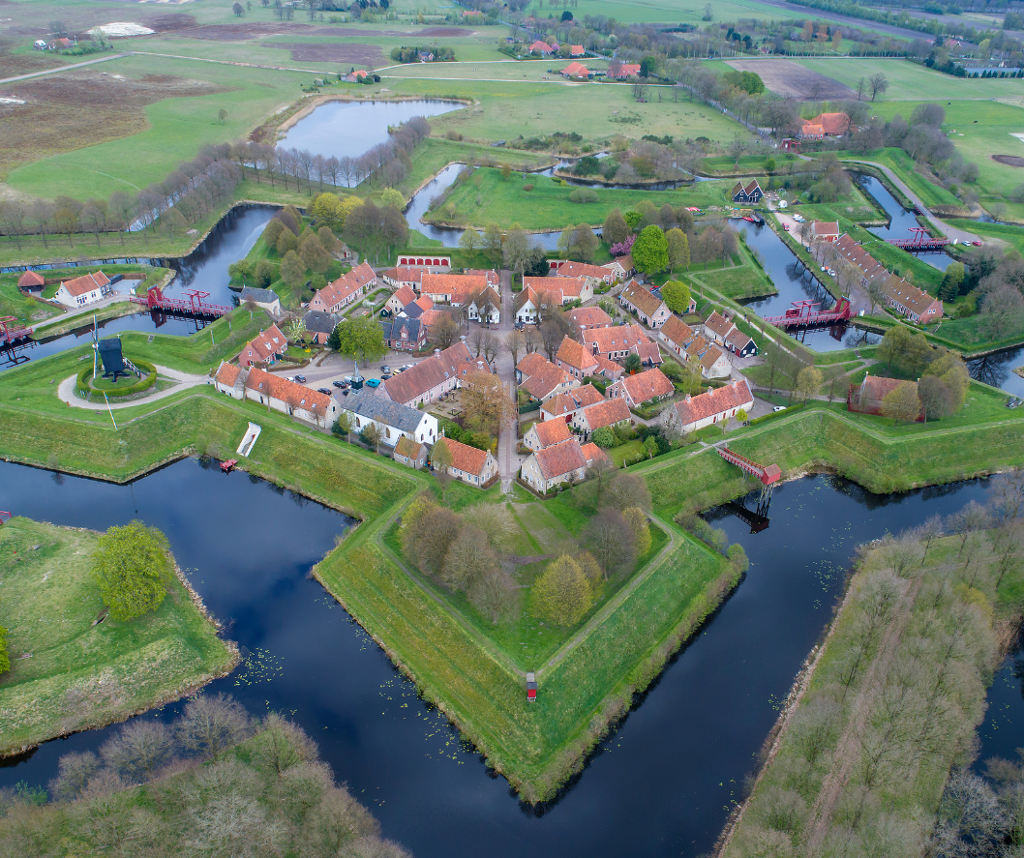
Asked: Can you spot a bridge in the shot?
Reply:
Yes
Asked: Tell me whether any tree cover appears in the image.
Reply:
Yes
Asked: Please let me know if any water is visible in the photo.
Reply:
Yes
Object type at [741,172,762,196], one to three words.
house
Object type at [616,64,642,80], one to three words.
house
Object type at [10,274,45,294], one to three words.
building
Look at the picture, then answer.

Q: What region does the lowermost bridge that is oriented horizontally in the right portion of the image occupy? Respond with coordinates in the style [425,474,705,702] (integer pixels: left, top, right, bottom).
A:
[761,297,859,328]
